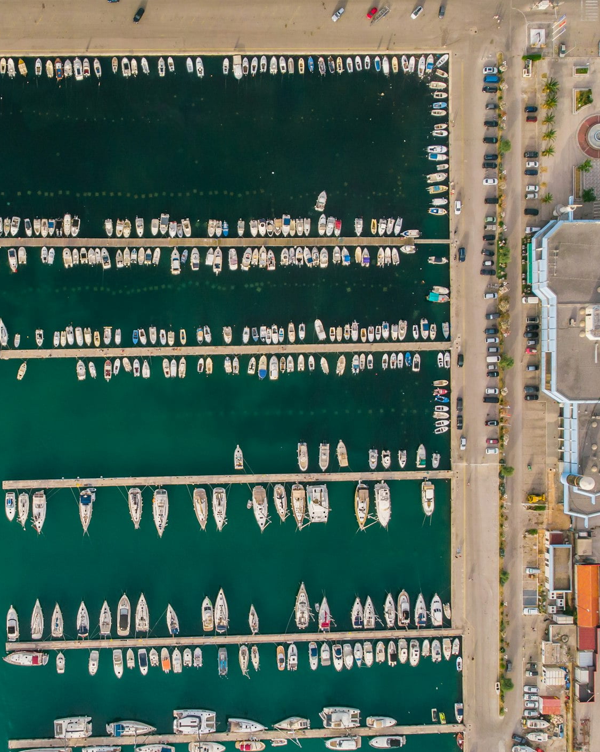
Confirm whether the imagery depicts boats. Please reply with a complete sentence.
Yes, looking at the shot, I can spot a boat.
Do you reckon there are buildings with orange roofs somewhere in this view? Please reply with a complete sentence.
Yes, the frame does contain a building with an orange roof.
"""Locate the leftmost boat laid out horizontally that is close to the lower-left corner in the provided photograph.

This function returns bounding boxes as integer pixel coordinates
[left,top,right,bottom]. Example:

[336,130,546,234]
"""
[3,651,46,668]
